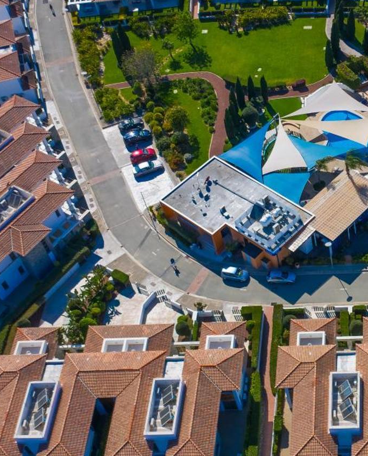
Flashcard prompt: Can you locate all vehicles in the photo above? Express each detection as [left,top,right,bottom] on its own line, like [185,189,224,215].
[130,148,158,163]
[267,269,298,284]
[220,265,250,282]
[119,119,144,132]
[134,162,163,177]
[124,130,150,144]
